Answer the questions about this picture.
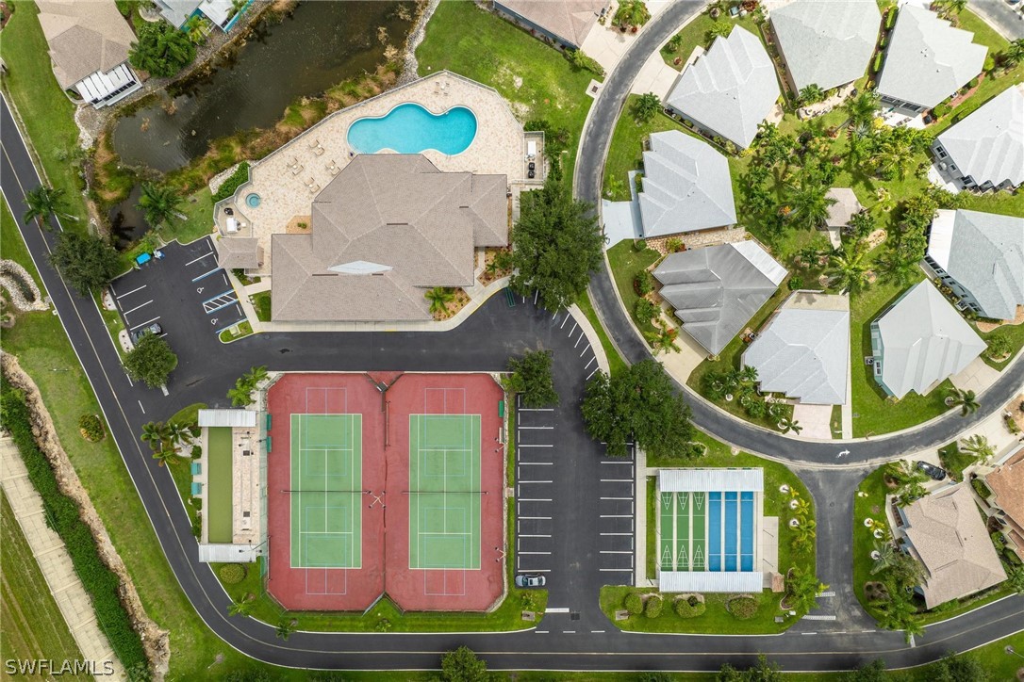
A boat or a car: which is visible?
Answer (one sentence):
Of the two, only a car appears.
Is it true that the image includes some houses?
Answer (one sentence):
Yes, the photo shows a house.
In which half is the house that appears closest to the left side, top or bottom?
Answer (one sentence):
The top half of the photo is where the house that appears closest to the left side is.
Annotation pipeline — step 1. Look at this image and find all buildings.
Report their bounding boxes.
[667,24,780,149]
[33,0,142,108]
[652,240,788,356]
[272,154,507,321]
[871,278,988,400]
[872,3,989,111]
[742,293,850,405]
[978,443,1024,552]
[819,188,861,228]
[932,81,1024,186]
[767,0,882,96]
[638,130,737,238]
[898,482,1008,610]
[918,209,1024,320]
[153,0,256,38]
[495,0,607,49]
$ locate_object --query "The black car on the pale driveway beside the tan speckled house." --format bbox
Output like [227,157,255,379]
[915,459,947,480]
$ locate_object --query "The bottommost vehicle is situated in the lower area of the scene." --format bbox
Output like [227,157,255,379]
[516,574,546,589]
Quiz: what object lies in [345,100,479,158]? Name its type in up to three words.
swimming pool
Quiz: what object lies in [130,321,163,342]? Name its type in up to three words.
car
